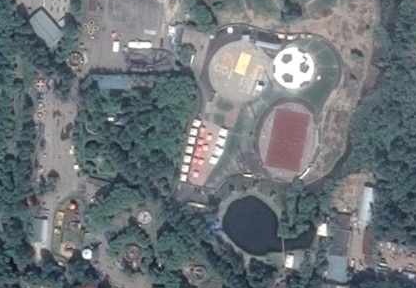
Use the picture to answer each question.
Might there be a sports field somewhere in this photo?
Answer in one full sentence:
Yes, there's a sports field here.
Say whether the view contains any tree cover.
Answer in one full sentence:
Yes, tree cover shows up in the scene.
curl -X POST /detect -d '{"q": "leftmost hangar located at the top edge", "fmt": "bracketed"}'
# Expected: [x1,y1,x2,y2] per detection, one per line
[28,6,63,44]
